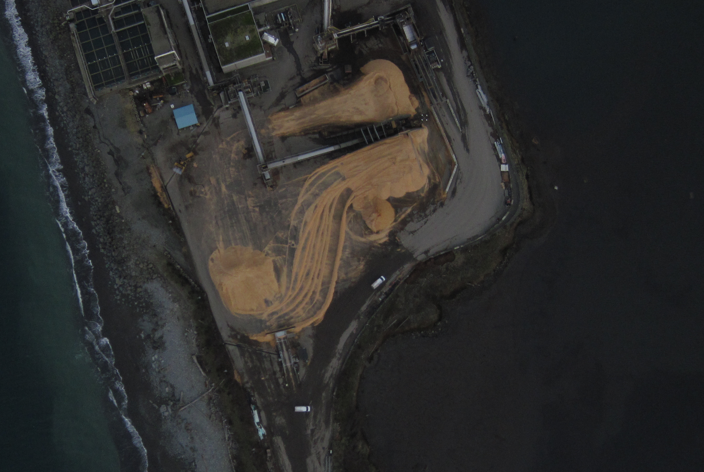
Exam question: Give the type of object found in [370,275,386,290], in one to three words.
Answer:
vehicle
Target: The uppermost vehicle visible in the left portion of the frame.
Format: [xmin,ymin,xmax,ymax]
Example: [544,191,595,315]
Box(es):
[263,33,278,47]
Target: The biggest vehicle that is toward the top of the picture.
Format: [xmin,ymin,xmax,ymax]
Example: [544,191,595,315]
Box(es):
[391,7,443,107]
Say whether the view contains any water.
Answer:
Yes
